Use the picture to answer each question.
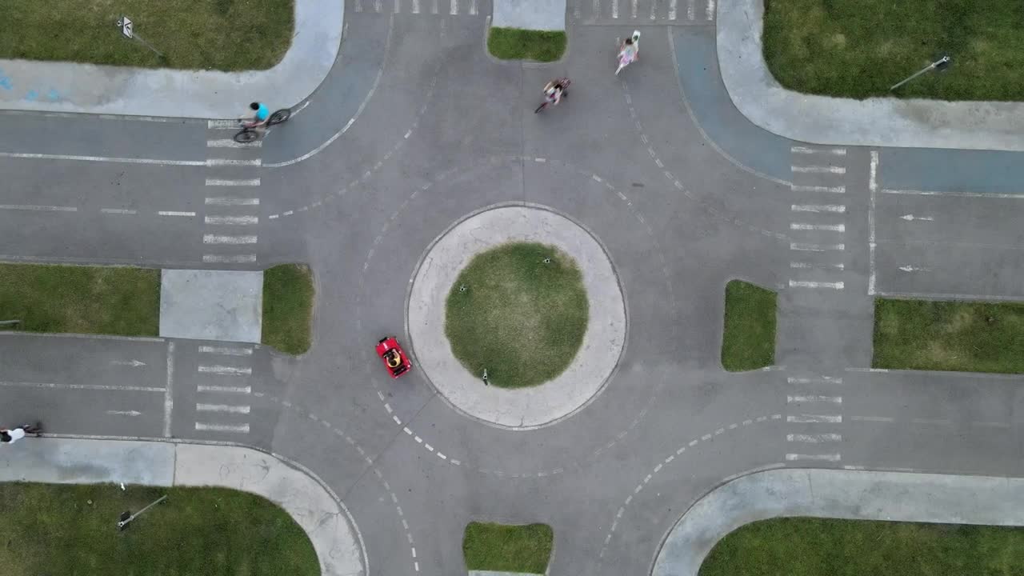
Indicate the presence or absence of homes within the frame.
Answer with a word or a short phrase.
No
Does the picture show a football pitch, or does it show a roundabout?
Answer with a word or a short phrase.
roundabout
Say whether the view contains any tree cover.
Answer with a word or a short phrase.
No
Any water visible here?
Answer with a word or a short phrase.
No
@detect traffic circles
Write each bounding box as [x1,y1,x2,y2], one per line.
[409,207,625,427]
